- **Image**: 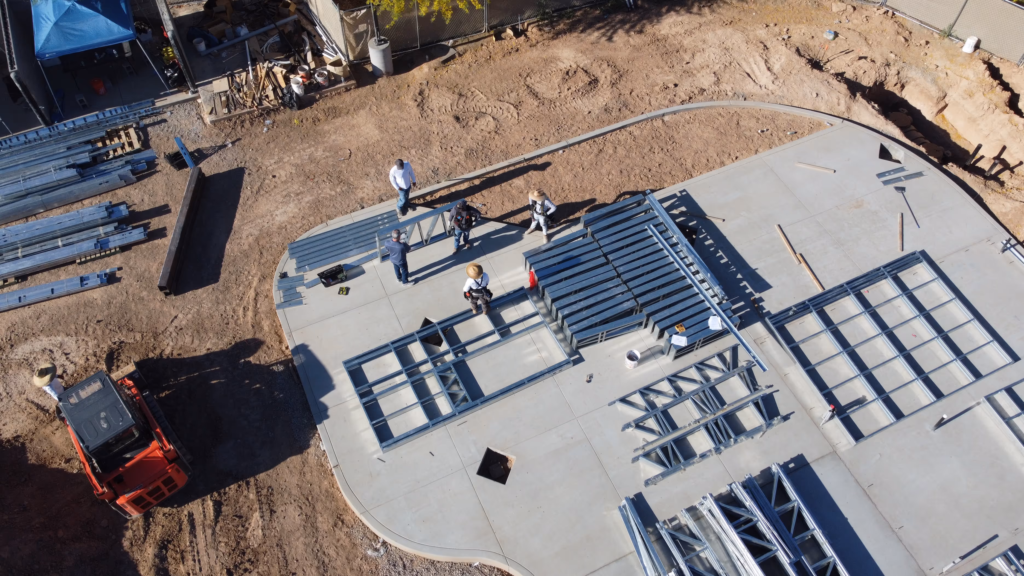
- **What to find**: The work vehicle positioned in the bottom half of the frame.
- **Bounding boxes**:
[59,374,206,525]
